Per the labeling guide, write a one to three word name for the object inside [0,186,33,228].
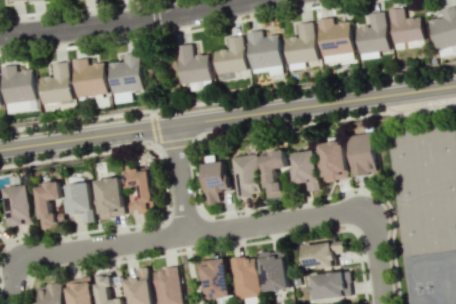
house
